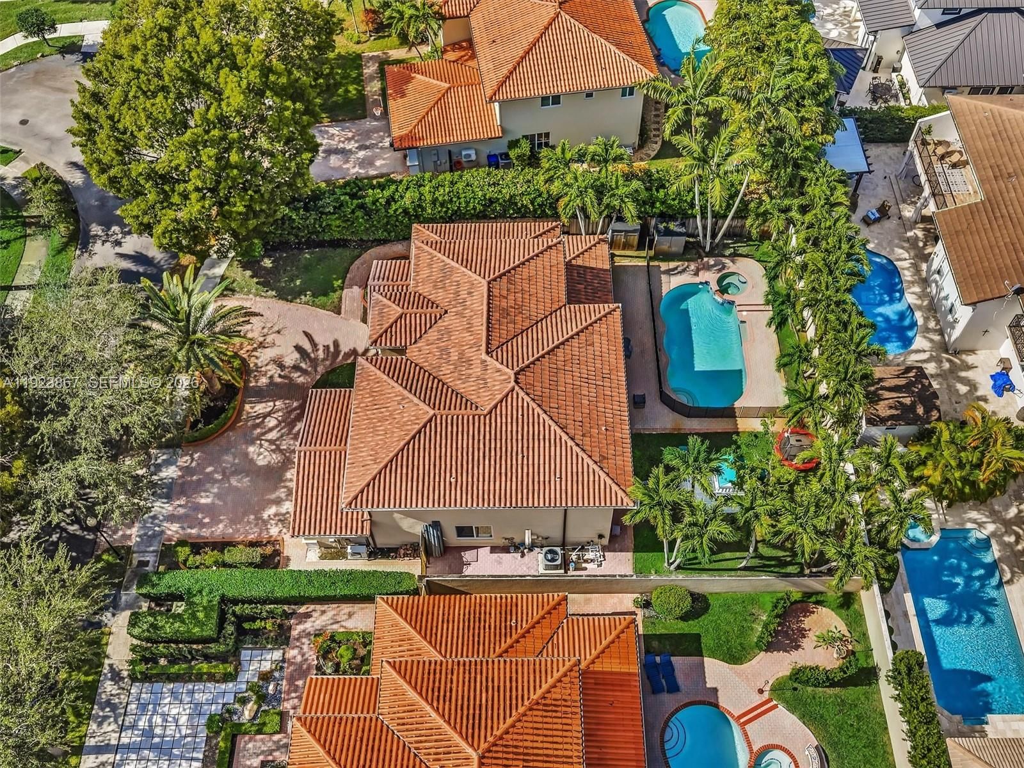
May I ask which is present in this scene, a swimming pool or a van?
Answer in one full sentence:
It is a swimming pool that can be seen here.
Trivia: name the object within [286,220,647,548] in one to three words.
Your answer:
house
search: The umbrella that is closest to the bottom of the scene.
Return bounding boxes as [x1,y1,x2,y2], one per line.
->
[987,375,1014,400]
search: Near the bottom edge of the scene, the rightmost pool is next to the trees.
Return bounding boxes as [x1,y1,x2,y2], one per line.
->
[896,521,1024,733]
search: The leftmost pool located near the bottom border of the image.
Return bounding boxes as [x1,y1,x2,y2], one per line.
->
[656,698,759,768]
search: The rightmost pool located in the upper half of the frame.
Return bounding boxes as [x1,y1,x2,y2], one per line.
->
[844,242,923,358]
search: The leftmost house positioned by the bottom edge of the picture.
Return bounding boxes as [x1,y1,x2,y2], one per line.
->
[282,593,648,768]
